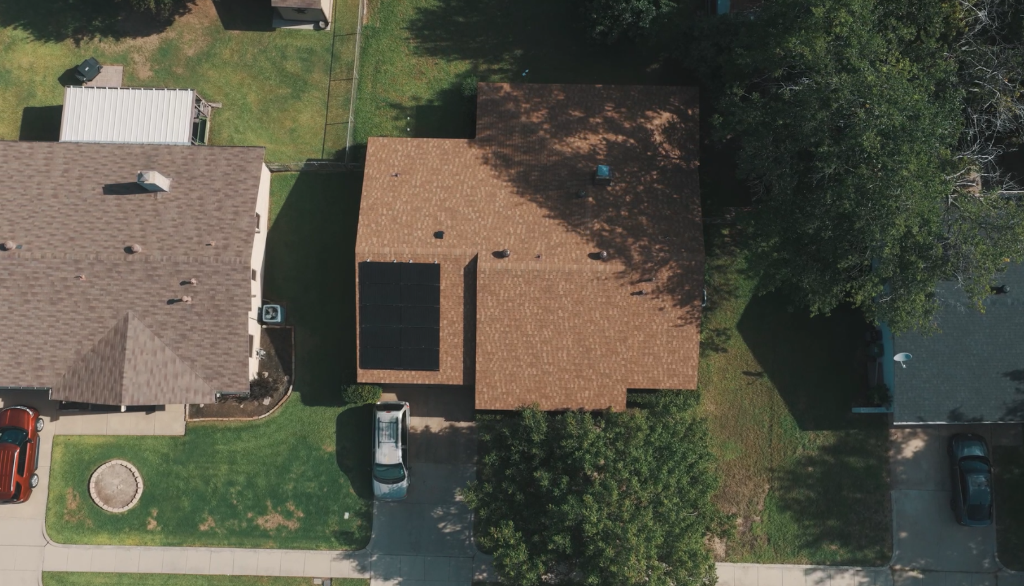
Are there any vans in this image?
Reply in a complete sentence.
Yes, this view includes a van.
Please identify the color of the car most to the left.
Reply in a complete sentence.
The color of the car most to the left is red.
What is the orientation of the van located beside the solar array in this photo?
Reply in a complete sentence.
Seen from above, the van located beside the solar array lies up and down.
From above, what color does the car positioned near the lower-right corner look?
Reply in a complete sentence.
The car positioned near the lower-right corner is black.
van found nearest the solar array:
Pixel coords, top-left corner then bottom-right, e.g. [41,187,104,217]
[366,401,411,504]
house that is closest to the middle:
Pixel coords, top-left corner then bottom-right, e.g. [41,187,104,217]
[354,84,708,412]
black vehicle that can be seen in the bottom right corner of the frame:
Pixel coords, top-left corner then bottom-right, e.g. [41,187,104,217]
[947,433,997,530]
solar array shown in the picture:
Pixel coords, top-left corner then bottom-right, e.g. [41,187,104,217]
[358,257,439,372]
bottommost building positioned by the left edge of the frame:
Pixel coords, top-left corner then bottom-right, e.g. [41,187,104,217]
[0,140,269,412]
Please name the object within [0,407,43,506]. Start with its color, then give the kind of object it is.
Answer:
red car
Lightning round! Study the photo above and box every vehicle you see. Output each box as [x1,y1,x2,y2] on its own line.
[947,433,997,530]
[0,407,43,506]
[366,401,411,504]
